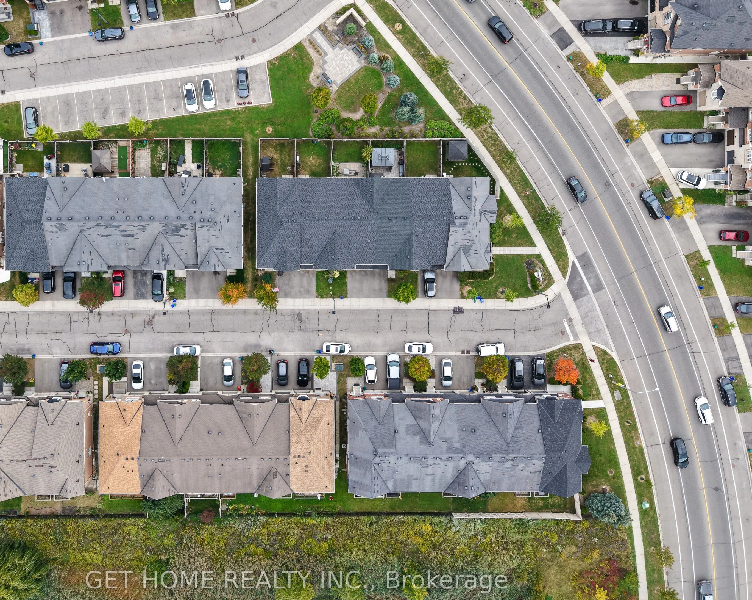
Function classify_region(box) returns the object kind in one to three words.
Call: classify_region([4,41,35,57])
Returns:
car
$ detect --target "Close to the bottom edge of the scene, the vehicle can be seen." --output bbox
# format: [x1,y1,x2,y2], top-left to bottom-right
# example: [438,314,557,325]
[696,580,715,600]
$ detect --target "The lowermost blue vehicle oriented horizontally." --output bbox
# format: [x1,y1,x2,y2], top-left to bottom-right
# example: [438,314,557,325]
[90,341,122,357]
